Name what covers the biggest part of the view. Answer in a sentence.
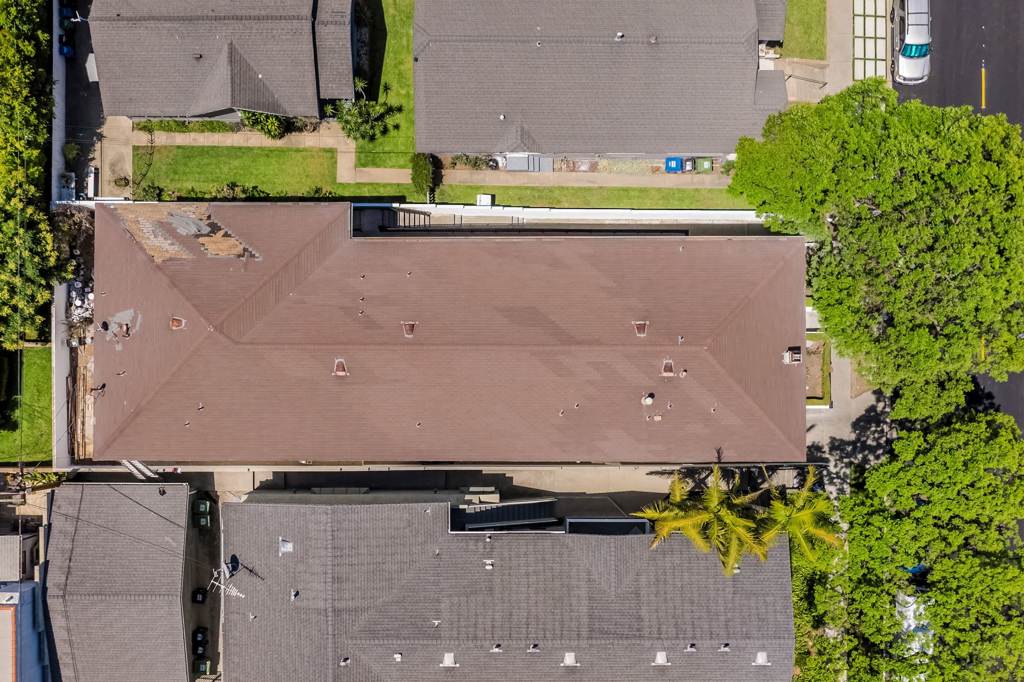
The largest share of the image is taken up by buildings.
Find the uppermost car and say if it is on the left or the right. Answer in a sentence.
You can find the uppermost car on the right side of the picture.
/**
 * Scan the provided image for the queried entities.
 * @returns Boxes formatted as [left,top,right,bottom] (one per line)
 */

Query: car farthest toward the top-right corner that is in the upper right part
[894,0,938,88]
